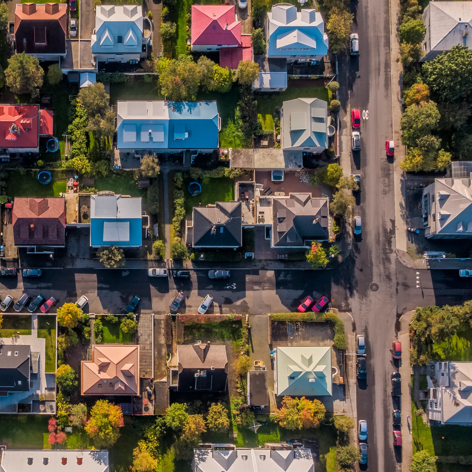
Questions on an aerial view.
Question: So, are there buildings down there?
Yes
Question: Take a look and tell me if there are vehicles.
Yes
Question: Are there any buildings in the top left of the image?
Yes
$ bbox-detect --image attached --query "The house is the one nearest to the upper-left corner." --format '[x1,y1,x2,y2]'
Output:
[8,3,67,64]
